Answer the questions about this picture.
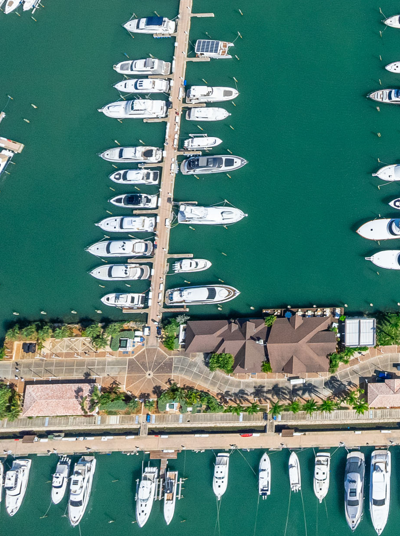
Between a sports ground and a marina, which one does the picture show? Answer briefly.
marina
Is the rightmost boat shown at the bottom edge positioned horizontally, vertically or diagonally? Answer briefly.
vertically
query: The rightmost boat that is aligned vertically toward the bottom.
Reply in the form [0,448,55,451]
[368,450,392,535]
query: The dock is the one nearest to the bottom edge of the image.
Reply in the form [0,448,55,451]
[150,452,179,478]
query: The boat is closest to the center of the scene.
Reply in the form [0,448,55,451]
[174,259,212,273]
